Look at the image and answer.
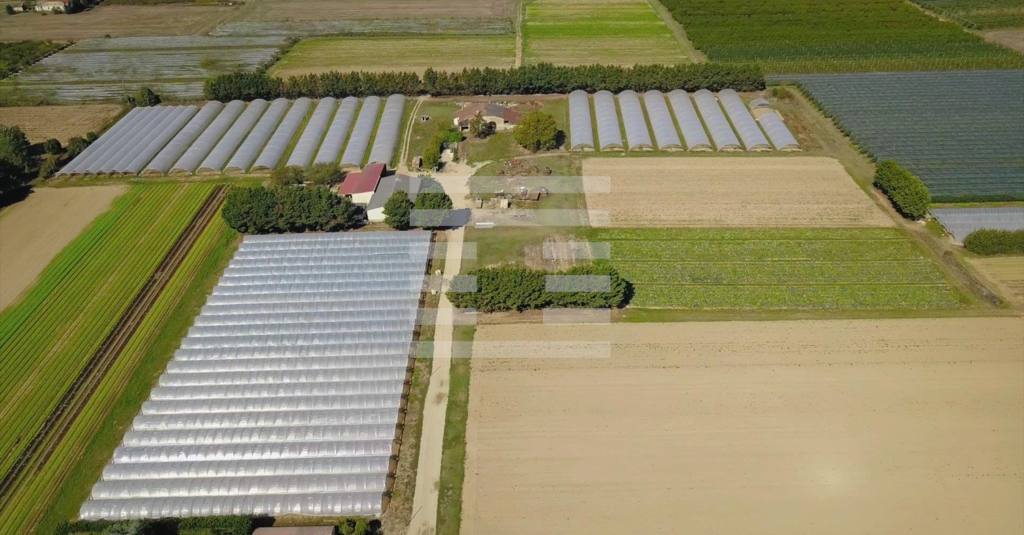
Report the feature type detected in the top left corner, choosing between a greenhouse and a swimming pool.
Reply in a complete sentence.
The feature located in the top left corner is a greenhouse.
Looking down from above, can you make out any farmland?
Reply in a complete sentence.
Yes, the picture does contain farmland.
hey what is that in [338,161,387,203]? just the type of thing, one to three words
barn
